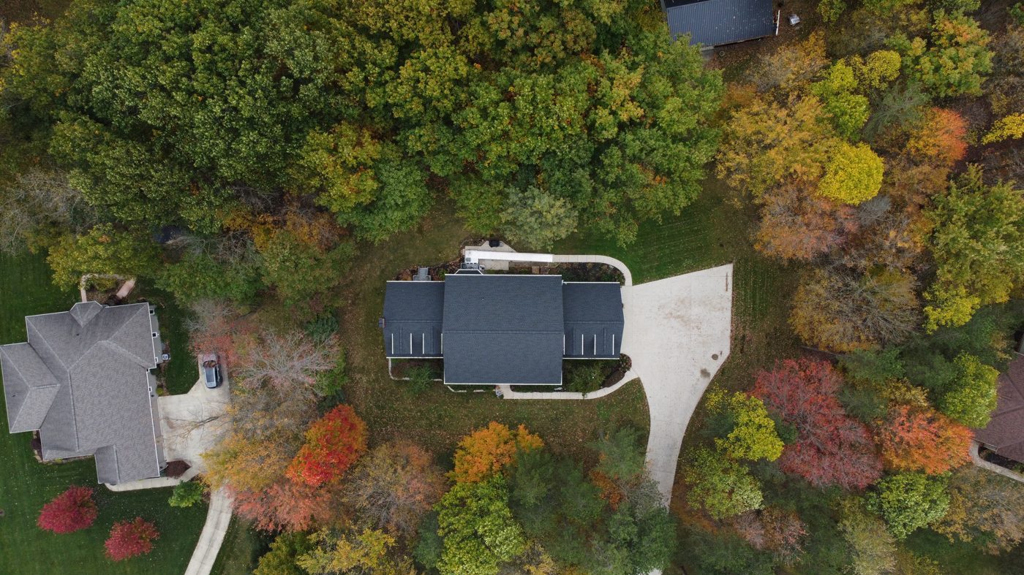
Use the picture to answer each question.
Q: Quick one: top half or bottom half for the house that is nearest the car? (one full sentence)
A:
The house that is nearest the car is in the bottom half of the image.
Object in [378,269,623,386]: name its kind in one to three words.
house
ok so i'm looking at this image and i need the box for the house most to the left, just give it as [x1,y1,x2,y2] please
[0,300,167,484]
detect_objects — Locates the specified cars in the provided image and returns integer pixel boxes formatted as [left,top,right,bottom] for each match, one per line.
[203,354,222,390]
